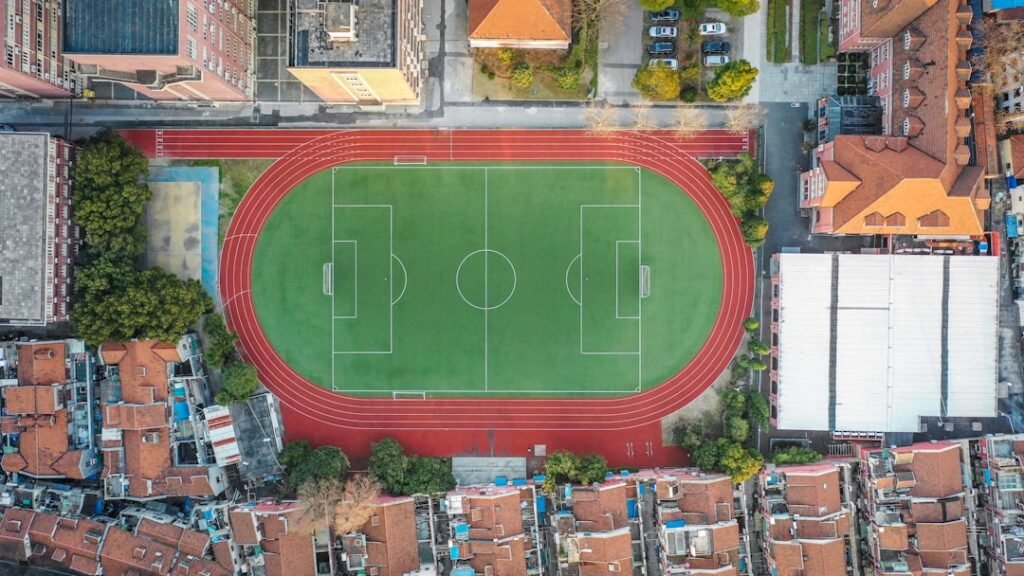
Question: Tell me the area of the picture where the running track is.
center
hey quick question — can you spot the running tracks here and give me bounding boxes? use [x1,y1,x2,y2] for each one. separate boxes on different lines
[120,129,757,474]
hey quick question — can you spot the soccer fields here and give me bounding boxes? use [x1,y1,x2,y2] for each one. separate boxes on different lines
[252,161,722,398]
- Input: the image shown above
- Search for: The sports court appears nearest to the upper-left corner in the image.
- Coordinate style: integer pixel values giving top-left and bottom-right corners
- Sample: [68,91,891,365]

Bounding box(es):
[112,167,219,298]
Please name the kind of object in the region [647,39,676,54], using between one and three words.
car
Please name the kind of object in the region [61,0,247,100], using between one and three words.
building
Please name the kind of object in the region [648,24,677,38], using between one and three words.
car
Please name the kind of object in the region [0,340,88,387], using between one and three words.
house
